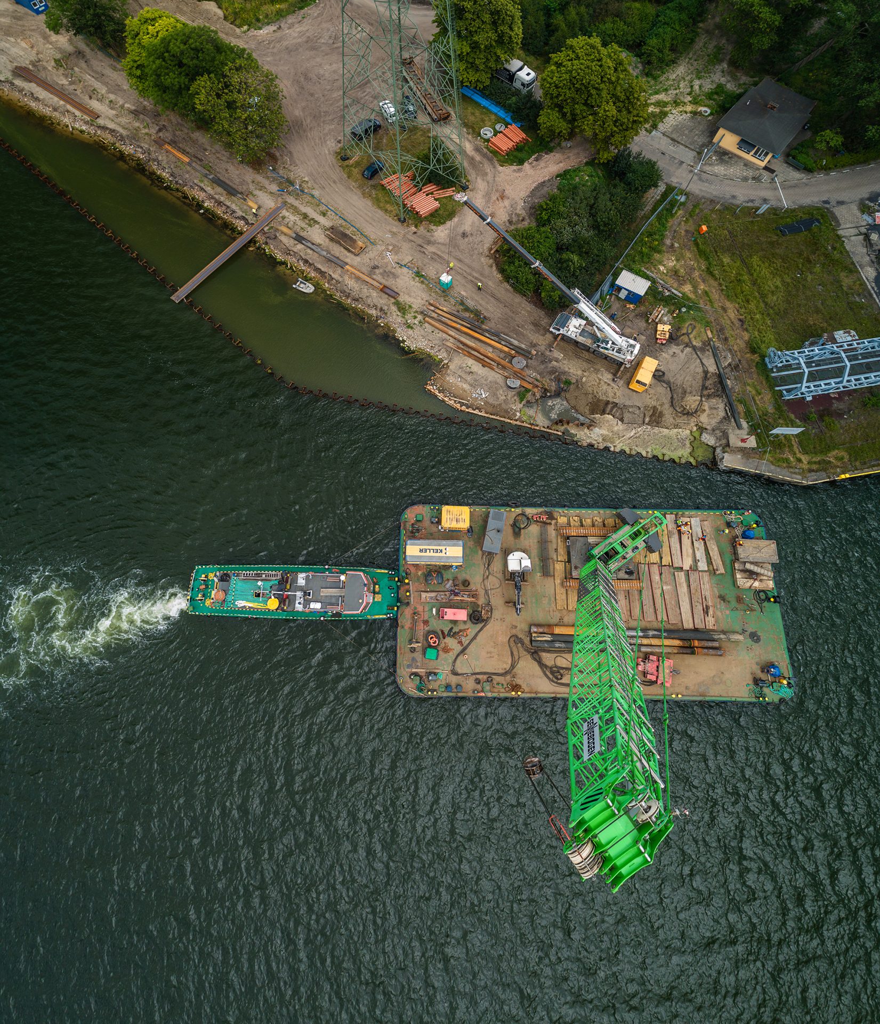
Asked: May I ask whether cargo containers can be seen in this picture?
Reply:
Yes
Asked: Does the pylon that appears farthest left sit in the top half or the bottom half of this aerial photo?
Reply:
top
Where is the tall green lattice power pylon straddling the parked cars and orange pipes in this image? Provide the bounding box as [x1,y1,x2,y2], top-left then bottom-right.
[335,0,472,227]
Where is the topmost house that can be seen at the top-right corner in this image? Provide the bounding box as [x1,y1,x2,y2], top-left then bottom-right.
[710,79,817,167]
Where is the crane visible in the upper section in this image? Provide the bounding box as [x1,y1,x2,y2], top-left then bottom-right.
[446,189,645,390]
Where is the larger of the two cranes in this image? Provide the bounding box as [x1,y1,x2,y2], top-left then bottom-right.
[475,495,690,889]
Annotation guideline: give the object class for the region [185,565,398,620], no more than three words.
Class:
boat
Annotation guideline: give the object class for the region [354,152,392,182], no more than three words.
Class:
car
